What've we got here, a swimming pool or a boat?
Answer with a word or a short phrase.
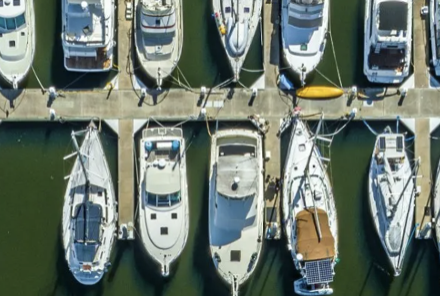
boat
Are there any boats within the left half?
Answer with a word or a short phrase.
Yes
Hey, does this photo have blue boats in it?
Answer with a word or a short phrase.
Yes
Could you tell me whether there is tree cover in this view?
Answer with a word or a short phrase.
No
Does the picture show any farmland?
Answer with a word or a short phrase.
No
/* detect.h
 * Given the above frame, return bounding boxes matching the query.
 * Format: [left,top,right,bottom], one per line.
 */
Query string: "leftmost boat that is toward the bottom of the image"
[61,117,117,286]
